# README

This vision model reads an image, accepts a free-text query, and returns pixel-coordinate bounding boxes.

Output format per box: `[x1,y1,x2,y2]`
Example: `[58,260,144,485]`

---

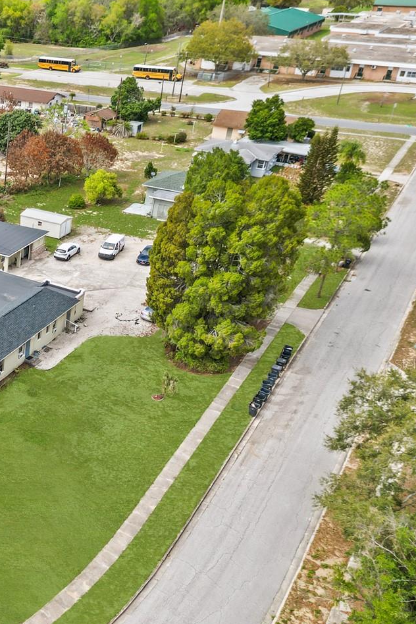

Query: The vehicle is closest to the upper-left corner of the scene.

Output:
[39,57,78,73]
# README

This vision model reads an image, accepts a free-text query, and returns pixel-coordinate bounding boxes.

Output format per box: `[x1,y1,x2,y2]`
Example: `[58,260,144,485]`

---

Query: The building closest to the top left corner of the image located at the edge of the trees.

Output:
[0,80,69,109]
